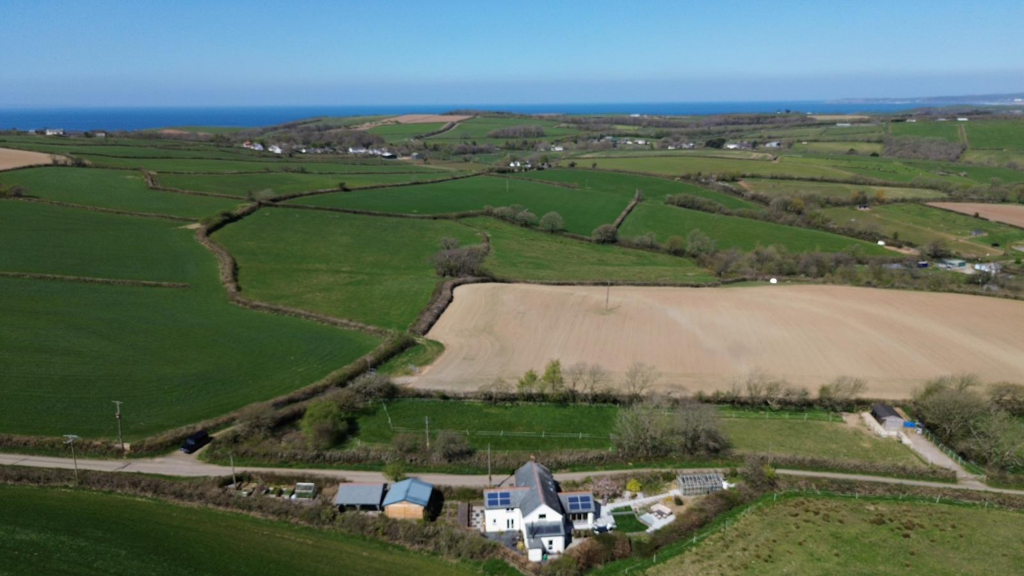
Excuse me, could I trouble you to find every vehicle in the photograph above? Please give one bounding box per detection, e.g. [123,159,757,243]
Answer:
[989,241,1001,246]
[180,431,210,452]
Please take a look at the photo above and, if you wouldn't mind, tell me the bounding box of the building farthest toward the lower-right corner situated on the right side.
[865,402,906,429]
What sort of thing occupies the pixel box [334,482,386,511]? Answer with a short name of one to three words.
shed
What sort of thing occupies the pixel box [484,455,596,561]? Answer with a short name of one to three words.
house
